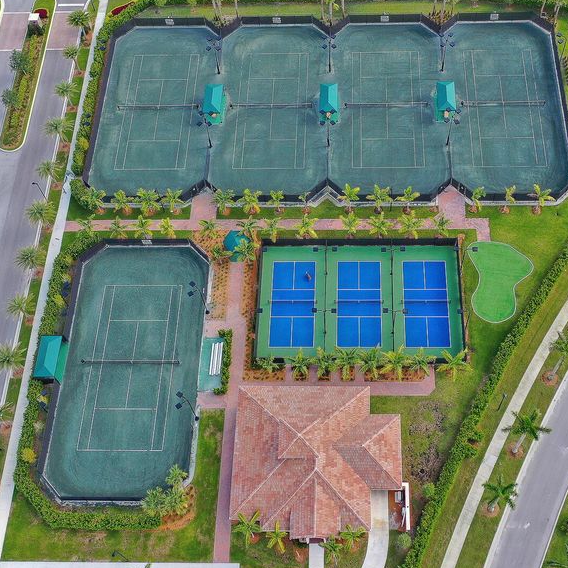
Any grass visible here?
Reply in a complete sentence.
Yes, there is grass in the image.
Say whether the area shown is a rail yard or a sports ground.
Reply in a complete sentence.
It's a sports ground.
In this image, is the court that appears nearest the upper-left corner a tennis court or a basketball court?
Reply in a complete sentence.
In the photo, the court that appears nearest the upper-left corner shows up as a tennis court.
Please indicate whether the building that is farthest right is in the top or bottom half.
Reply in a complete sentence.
You can find the building that is farthest right in the top half.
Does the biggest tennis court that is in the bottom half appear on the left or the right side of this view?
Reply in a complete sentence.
The biggest tennis court that is in the bottom half is on the left side of the image.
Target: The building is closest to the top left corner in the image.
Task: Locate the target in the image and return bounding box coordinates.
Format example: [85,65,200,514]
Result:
[203,84,227,124]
